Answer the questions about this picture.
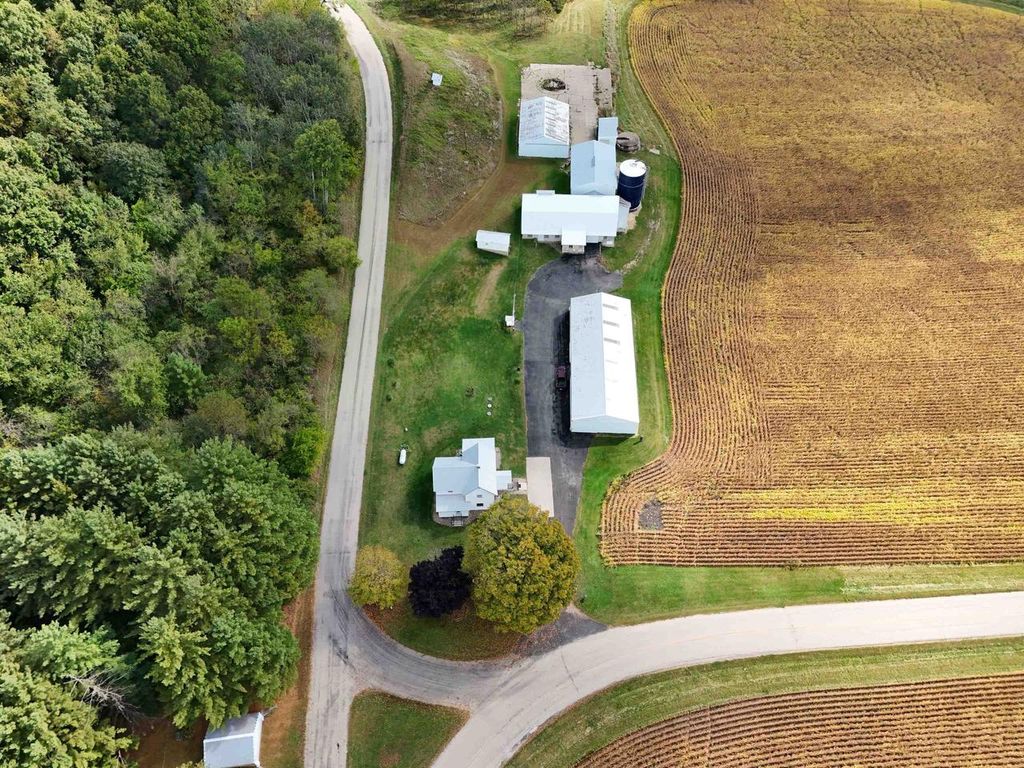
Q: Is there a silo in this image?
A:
Yes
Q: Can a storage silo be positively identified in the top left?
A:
No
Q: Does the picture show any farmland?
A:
Yes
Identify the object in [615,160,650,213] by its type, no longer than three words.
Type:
silo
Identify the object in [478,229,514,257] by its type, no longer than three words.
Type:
shed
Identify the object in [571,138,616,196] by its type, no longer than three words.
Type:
barn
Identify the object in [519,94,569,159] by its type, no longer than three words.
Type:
barn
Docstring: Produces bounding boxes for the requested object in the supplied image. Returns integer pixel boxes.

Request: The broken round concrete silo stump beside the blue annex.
[616,131,640,151]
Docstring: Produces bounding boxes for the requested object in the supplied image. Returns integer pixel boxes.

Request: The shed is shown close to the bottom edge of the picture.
[204,713,261,768]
